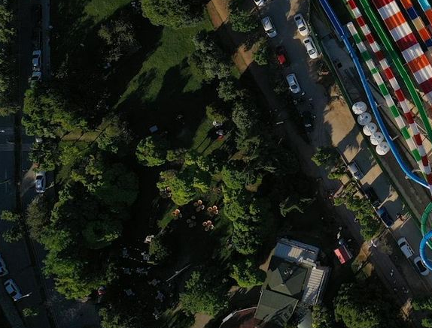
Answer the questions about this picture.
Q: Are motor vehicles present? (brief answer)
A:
Yes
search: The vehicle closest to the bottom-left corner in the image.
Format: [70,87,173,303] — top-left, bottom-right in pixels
[4,278,23,301]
